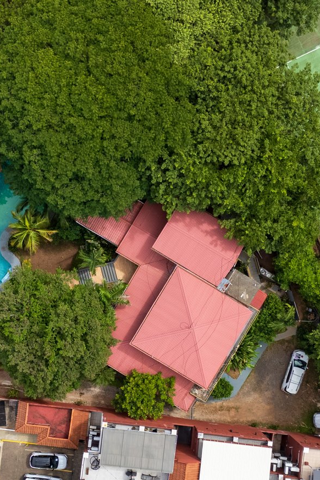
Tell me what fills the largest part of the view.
trees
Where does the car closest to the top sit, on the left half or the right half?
right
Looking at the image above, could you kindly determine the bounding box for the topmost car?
[282,351,310,394]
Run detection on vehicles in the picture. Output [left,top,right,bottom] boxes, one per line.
[312,412,320,430]
[21,474,61,480]
[282,351,310,394]
[28,451,68,474]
